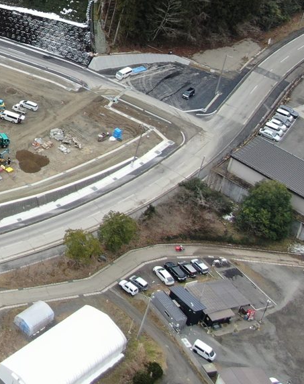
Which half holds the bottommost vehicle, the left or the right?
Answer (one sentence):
The bottommost vehicle appears in the right half of the scene.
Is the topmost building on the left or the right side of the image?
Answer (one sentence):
You can find the topmost building on the right side of the picture.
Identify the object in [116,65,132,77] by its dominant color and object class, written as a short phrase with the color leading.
white vehicle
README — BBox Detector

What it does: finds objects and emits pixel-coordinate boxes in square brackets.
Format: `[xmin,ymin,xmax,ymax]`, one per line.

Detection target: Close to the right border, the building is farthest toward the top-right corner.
[229,136,304,214]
